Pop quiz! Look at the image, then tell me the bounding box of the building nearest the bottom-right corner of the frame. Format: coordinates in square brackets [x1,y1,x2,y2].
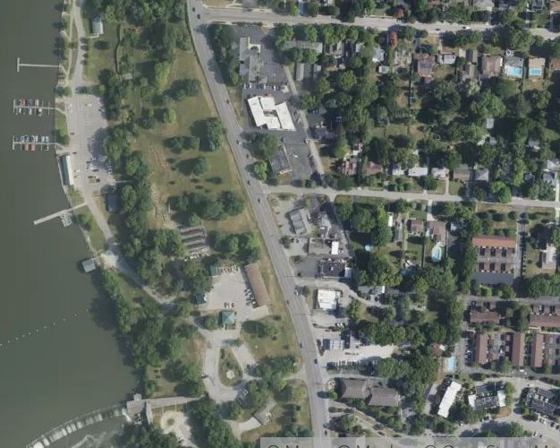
[523,386,560,420]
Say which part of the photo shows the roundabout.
bottom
